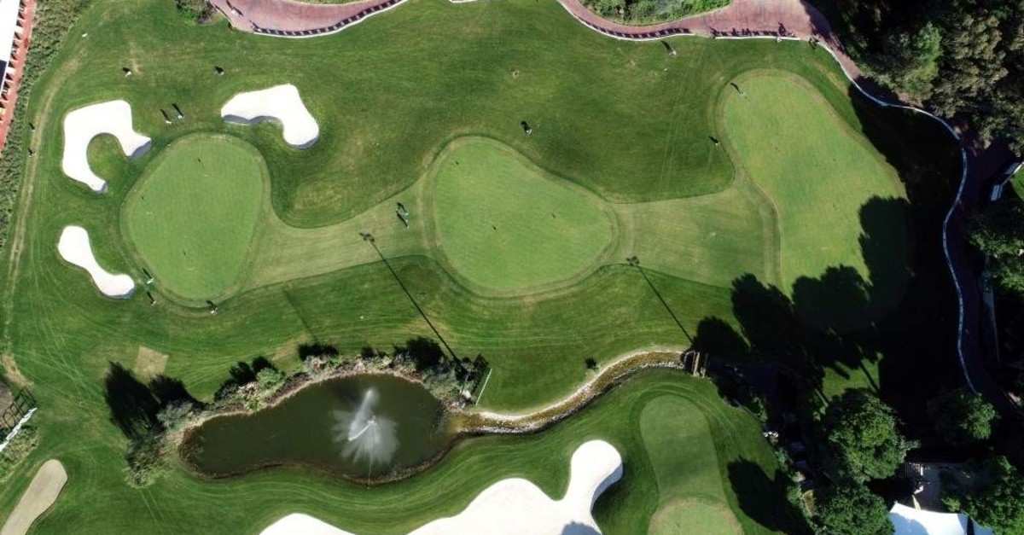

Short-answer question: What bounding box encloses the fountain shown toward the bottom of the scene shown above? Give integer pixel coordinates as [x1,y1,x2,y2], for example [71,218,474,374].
[334,378,426,488]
